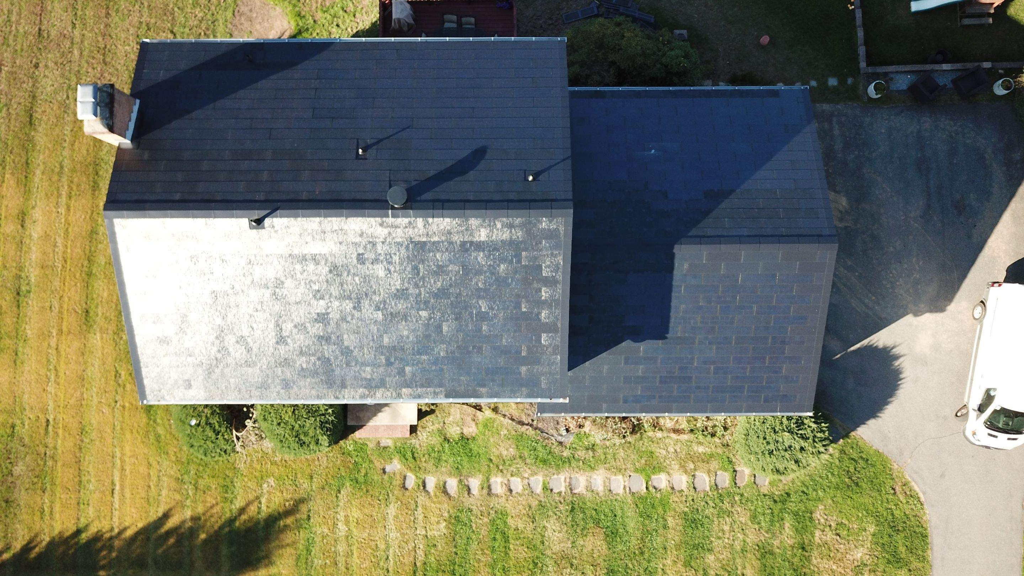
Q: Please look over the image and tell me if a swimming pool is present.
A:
No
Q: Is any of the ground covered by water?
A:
No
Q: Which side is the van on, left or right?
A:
right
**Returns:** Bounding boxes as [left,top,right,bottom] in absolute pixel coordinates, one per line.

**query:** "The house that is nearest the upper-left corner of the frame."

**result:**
[77,36,573,405]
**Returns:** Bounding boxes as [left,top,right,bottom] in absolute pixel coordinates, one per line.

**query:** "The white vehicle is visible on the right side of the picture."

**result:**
[956,280,1024,447]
